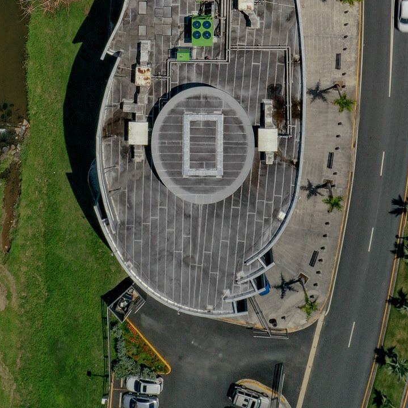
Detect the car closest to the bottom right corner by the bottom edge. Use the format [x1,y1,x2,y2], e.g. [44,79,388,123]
[228,382,270,408]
